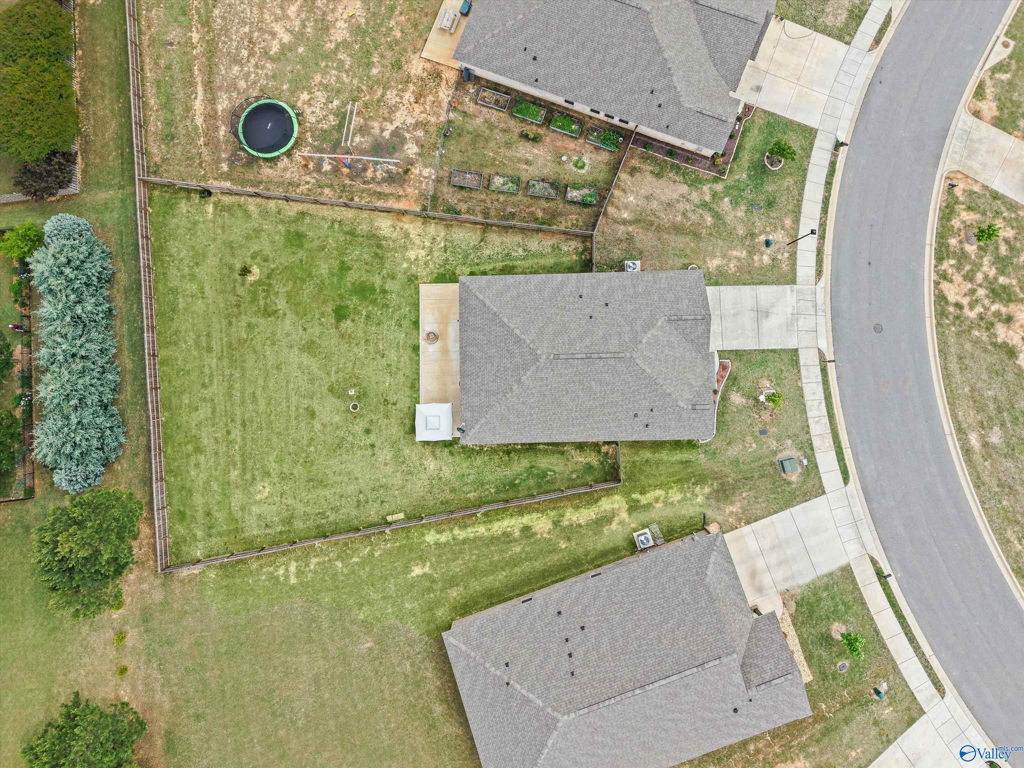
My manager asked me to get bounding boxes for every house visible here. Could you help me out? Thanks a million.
[440,514,813,768]
[452,0,773,157]
[457,269,719,446]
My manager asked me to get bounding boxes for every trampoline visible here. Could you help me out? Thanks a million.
[230,89,303,161]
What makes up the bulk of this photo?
grass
